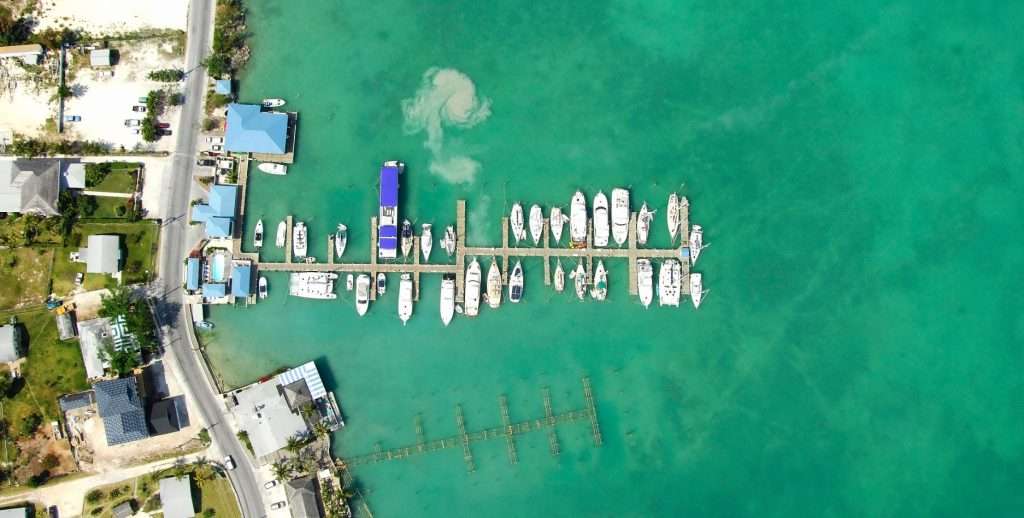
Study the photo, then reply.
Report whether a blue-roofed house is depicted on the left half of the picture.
Yes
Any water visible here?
Yes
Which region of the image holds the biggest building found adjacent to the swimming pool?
left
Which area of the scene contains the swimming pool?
left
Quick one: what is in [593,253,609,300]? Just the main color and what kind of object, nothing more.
white boat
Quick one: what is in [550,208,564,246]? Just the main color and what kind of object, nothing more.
white boat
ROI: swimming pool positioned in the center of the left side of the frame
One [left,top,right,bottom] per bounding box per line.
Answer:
[207,251,228,284]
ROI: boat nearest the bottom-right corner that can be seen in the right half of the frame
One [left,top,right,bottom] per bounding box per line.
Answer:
[689,267,707,308]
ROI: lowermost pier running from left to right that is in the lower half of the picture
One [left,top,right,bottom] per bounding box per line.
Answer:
[338,376,603,473]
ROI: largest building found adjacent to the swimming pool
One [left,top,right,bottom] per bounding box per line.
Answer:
[192,185,240,237]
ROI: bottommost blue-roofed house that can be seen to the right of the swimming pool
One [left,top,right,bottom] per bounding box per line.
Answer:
[232,266,252,296]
